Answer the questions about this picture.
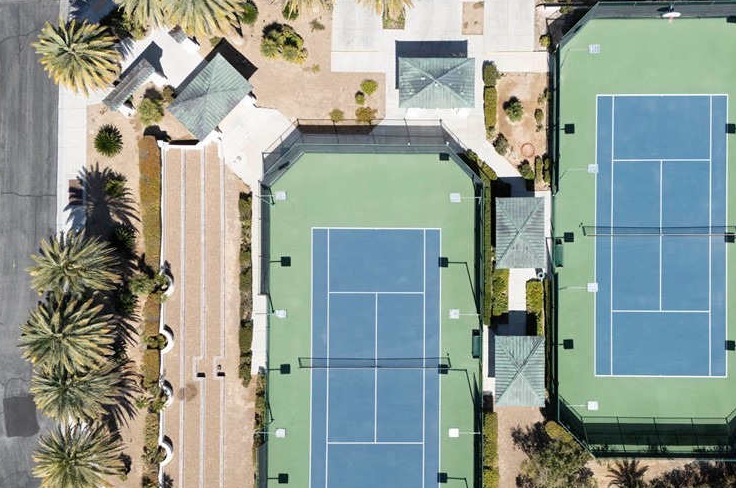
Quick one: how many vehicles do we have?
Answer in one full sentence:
The picture shows no vehicles.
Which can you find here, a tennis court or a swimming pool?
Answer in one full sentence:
Visible in the photo is a tennis court.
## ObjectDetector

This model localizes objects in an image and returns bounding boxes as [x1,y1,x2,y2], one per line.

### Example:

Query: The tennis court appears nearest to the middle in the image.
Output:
[266,153,481,488]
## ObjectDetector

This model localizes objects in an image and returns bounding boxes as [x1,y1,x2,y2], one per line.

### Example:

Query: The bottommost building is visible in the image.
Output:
[494,336,546,407]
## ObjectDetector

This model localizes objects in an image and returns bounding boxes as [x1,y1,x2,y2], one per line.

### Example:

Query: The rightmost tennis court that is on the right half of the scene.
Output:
[552,15,736,454]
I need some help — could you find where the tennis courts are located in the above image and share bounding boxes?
[552,15,736,454]
[266,153,481,488]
